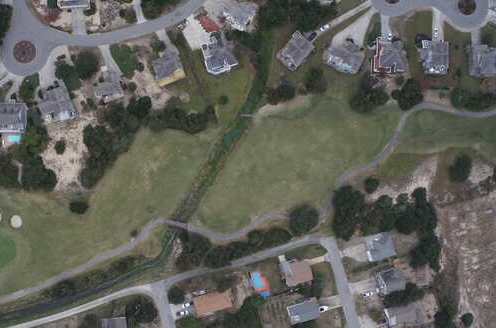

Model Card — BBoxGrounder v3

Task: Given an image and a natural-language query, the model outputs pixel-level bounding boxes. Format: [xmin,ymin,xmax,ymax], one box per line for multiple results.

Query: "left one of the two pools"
[1,133,23,148]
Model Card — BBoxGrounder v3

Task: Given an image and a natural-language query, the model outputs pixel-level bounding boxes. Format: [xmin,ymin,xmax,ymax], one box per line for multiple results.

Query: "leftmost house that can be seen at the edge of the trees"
[0,103,30,135]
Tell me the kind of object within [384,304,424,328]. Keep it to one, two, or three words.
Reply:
house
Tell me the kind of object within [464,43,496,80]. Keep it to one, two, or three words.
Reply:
house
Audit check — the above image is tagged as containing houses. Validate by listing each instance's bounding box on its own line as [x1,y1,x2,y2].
[94,66,125,104]
[102,317,127,328]
[384,304,424,328]
[372,267,406,293]
[364,233,395,262]
[416,39,449,77]
[194,289,232,315]
[151,48,186,85]
[219,4,255,35]
[325,45,367,76]
[464,43,496,80]
[58,0,89,10]
[373,35,406,75]
[40,84,77,125]
[0,103,30,135]
[278,258,313,285]
[277,29,315,74]
[200,35,239,79]
[285,297,321,323]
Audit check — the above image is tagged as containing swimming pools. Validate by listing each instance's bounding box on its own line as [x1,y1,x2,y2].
[252,271,270,293]
[1,133,23,148]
